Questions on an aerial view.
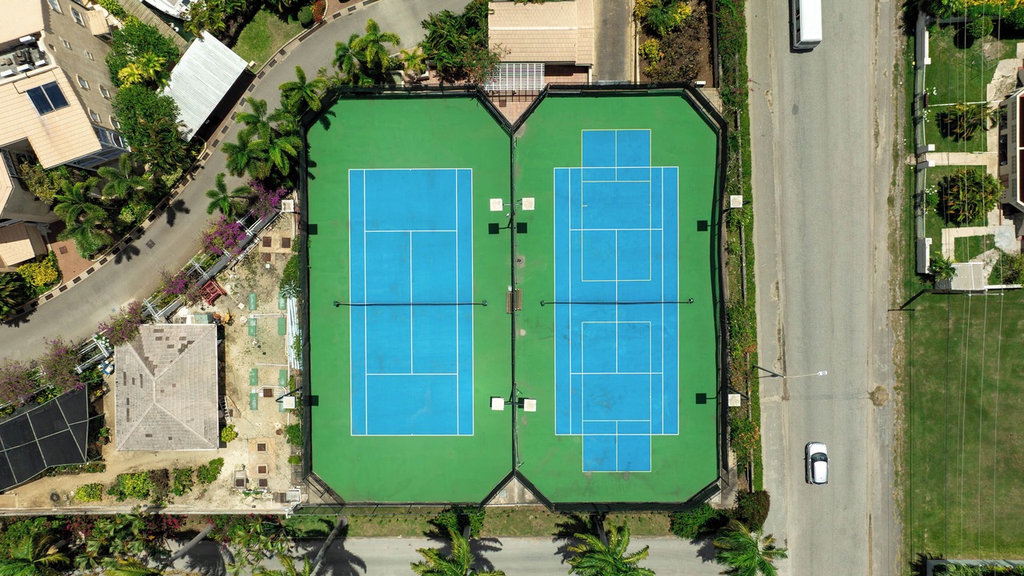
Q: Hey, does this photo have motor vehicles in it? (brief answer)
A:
Yes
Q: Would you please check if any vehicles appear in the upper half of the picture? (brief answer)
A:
Yes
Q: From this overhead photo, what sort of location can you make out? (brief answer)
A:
sports ground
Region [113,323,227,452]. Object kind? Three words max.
house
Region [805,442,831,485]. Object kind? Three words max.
car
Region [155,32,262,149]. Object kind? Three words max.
shed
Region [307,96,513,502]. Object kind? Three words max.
tennis court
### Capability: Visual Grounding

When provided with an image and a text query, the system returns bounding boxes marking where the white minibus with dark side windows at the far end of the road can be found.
[789,0,822,49]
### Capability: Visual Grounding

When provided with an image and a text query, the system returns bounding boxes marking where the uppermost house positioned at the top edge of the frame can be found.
[488,0,594,85]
